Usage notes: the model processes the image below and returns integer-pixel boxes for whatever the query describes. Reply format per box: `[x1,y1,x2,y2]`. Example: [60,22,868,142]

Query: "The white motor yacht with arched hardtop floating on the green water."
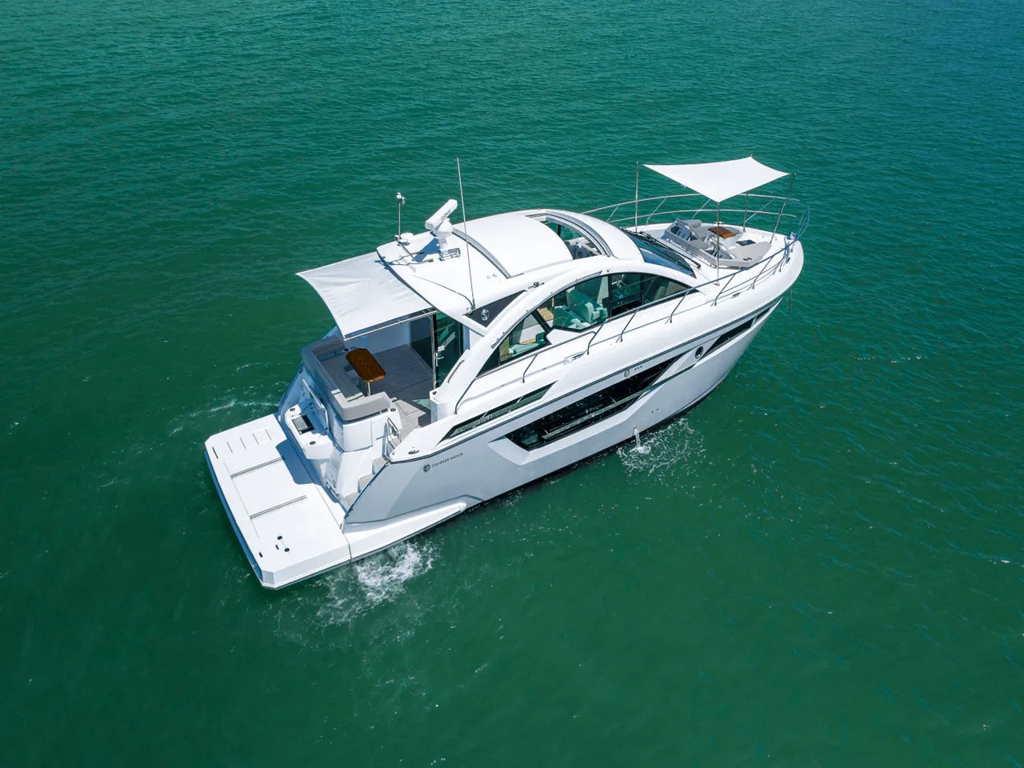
[205,162,807,586]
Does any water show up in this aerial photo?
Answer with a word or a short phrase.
Yes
